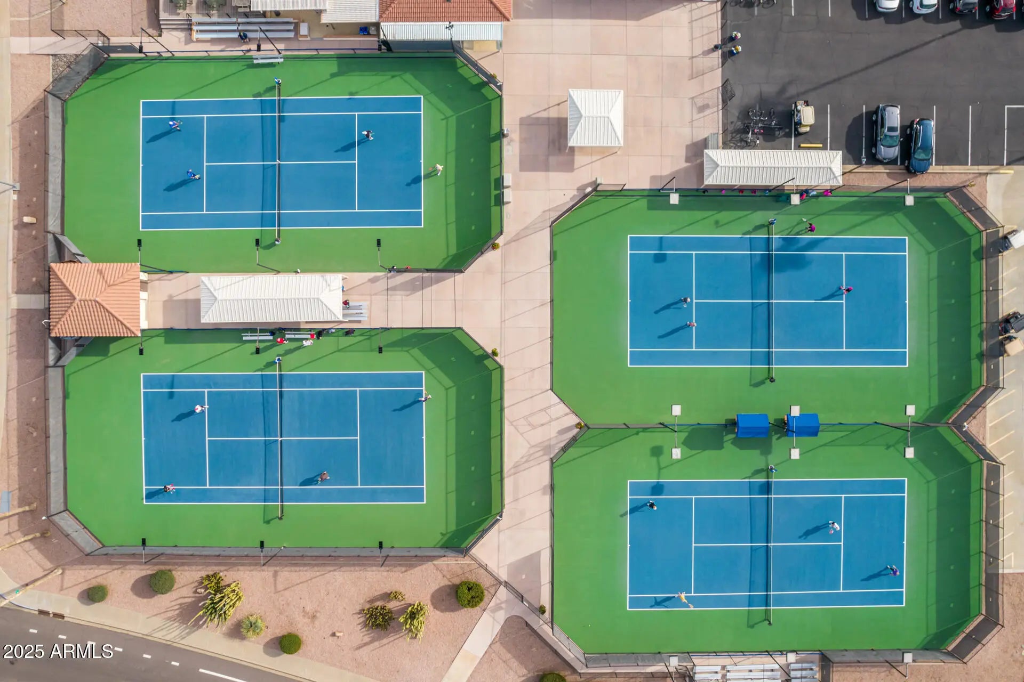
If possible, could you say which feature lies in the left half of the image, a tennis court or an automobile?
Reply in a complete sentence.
What appears in the left half of the image is a tennis court.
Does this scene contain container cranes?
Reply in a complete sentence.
No, no container crane is visible in the view.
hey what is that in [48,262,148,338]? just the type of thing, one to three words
building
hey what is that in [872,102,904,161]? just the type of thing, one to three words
car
